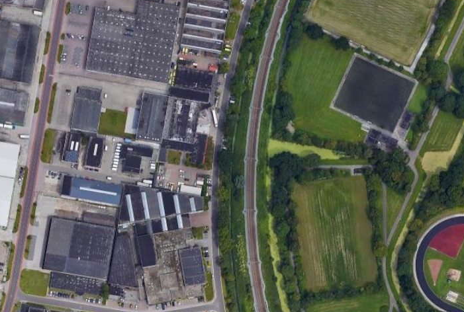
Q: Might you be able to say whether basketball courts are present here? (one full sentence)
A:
No, there isn't any basketball court down there.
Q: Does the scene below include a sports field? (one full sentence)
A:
Yes, a sports field appears in the view.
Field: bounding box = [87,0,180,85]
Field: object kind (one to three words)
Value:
building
